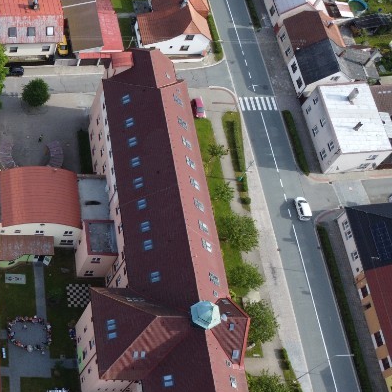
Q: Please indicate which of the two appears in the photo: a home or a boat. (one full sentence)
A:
The one in the frame is a home.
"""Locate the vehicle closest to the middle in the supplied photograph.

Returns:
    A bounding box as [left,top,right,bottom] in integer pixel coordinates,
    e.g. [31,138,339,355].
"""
[192,96,207,119]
